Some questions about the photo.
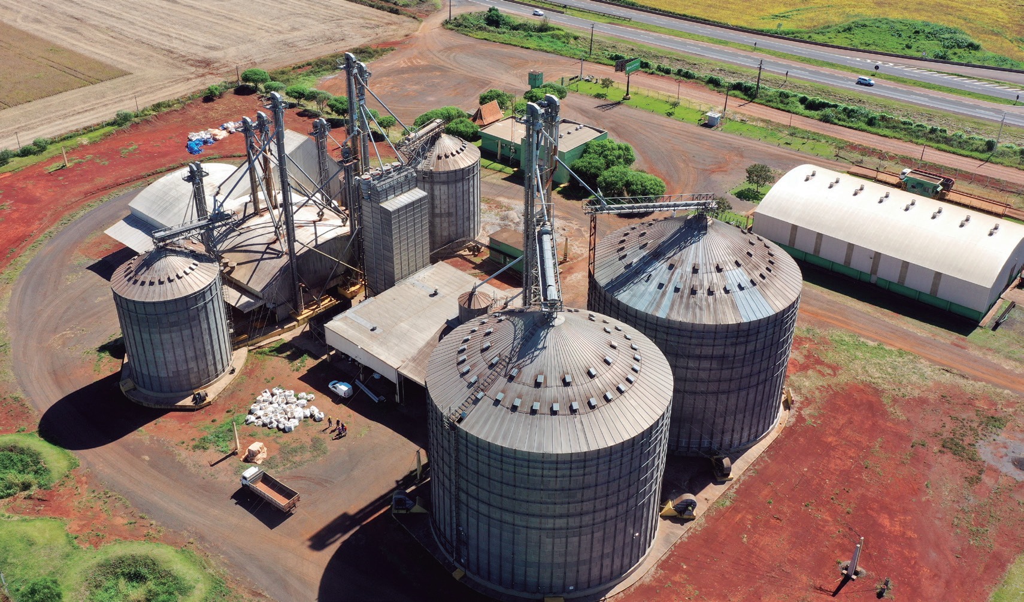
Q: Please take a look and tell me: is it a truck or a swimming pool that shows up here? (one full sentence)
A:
Visible in the photo is a truck.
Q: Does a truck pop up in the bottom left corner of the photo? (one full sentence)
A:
Yes, in the bottom left corner of the photo there is a truck.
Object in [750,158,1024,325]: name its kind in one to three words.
warehouse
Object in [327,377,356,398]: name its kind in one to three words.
vehicle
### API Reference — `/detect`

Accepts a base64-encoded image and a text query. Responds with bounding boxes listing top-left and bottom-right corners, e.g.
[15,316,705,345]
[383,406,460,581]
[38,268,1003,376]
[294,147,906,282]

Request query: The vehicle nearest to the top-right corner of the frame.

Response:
[854,74,876,86]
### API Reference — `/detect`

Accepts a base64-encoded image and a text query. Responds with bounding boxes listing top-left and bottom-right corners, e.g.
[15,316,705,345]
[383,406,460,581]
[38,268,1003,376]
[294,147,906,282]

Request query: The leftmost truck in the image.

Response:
[236,464,300,516]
